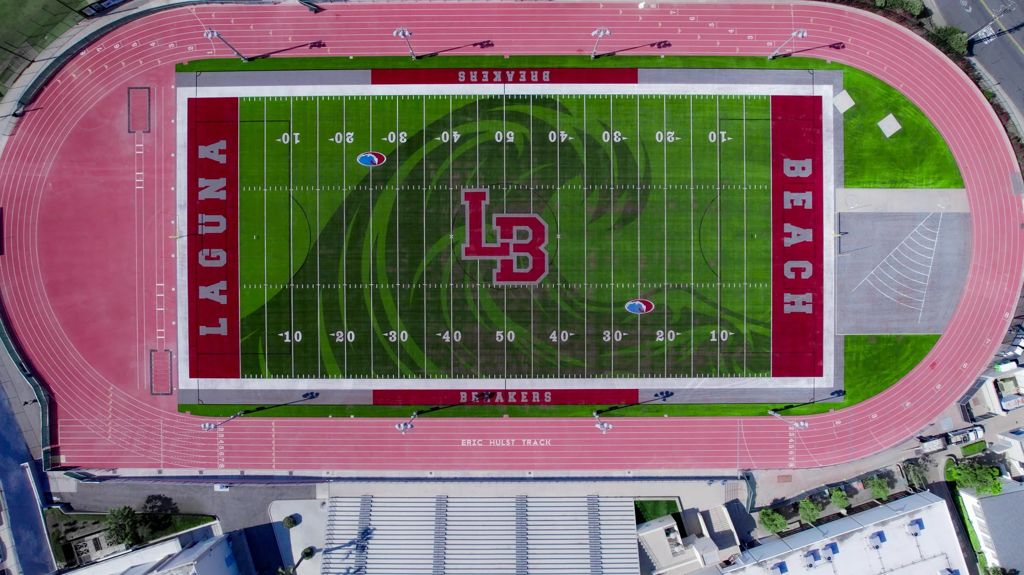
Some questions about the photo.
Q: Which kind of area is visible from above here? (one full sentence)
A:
It's a sports ground.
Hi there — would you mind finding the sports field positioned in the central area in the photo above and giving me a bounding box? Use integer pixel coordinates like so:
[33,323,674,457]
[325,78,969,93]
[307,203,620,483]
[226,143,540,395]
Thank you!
[176,55,845,418]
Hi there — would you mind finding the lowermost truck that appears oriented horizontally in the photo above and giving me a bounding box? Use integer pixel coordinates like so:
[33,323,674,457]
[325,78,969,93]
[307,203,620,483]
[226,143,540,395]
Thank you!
[946,426,983,447]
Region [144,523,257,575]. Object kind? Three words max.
building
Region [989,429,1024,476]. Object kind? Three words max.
building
